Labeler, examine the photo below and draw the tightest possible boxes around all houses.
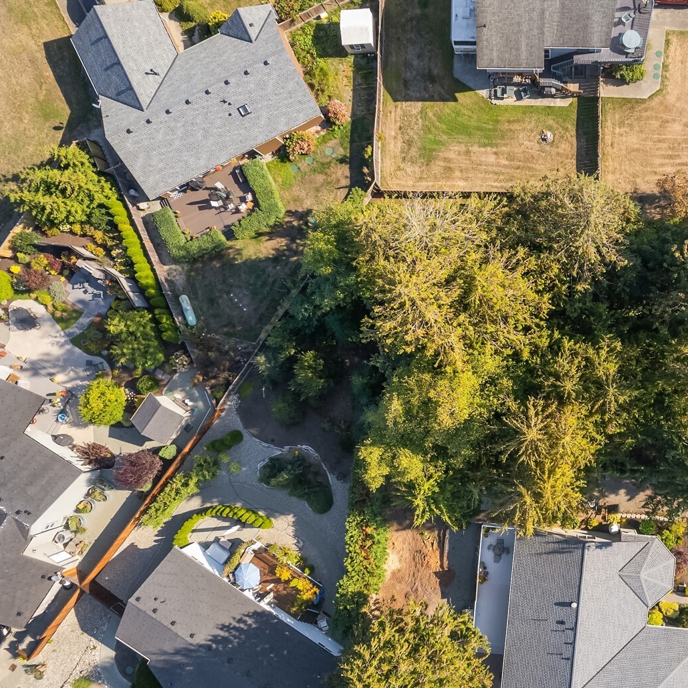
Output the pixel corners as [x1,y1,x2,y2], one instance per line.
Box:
[474,0,615,93]
[501,527,688,688]
[115,543,346,688]
[0,373,99,629]
[70,0,326,202]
